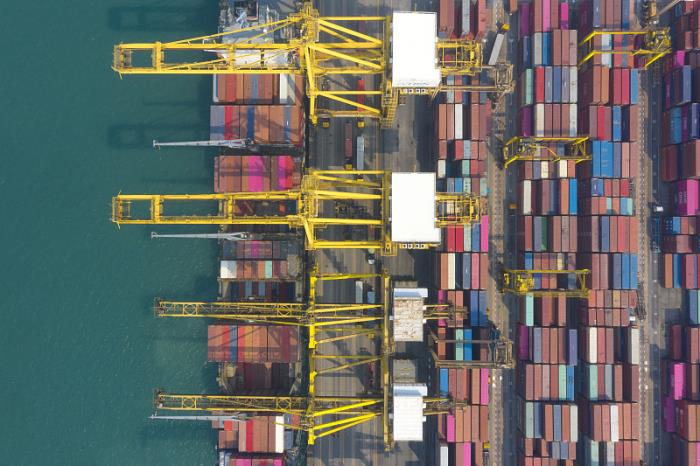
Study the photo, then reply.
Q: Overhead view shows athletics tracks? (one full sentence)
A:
No, no athletics track can be seen from above.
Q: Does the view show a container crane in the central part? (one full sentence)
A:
Yes, a container crane appears in the central part.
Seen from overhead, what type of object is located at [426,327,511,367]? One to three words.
container crane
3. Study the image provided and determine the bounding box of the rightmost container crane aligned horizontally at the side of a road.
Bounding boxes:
[576,30,670,74]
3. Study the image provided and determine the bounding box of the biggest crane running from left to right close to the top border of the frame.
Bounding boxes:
[112,2,489,132]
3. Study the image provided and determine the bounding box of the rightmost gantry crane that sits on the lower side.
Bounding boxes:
[500,263,594,297]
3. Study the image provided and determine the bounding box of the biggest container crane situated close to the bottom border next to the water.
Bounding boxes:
[150,340,470,454]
